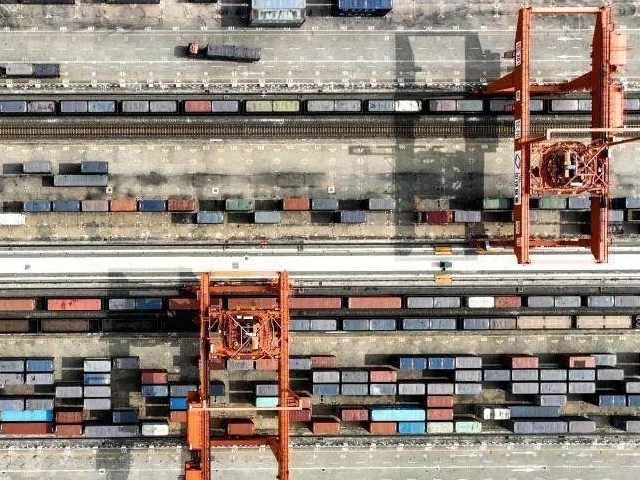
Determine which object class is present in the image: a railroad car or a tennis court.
railroad car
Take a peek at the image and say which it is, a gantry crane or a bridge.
gantry crane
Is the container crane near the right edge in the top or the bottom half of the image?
top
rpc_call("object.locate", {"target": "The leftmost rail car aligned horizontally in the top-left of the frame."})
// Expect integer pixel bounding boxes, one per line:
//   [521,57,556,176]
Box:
[0,100,59,117]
